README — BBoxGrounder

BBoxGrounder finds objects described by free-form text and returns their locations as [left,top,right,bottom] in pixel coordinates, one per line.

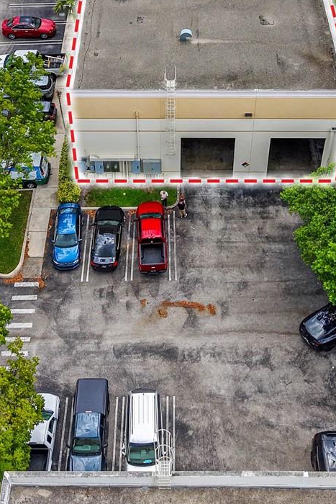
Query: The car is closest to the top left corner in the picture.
[0,11,60,37]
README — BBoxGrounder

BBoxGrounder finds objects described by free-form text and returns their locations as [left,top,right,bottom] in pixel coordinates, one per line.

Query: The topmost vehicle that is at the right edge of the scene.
[298,297,336,349]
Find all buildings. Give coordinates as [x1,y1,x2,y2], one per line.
[4,471,336,504]
[67,0,336,182]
